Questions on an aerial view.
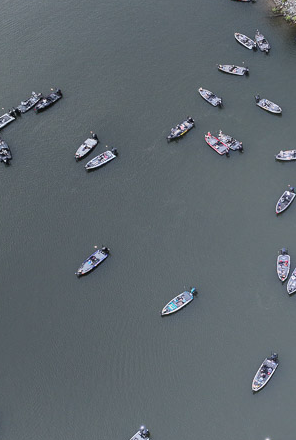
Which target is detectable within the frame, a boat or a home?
boat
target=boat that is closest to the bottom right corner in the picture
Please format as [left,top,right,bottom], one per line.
[252,355,278,390]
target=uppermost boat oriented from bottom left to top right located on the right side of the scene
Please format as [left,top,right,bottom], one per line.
[168,116,195,137]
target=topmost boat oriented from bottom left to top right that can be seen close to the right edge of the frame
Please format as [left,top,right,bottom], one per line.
[276,188,295,212]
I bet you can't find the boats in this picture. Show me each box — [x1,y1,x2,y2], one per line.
[36,89,63,110]
[162,288,195,314]
[168,116,195,137]
[0,139,10,163]
[287,269,296,294]
[255,96,281,113]
[0,110,16,129]
[255,31,270,53]
[200,87,221,107]
[218,64,248,76]
[252,355,278,390]
[85,147,117,168]
[276,188,295,212]
[276,149,296,159]
[277,250,289,281]
[219,132,243,151]
[206,135,229,155]
[129,429,150,440]
[234,32,256,50]
[76,135,97,157]
[17,93,41,114]
[78,246,110,273]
